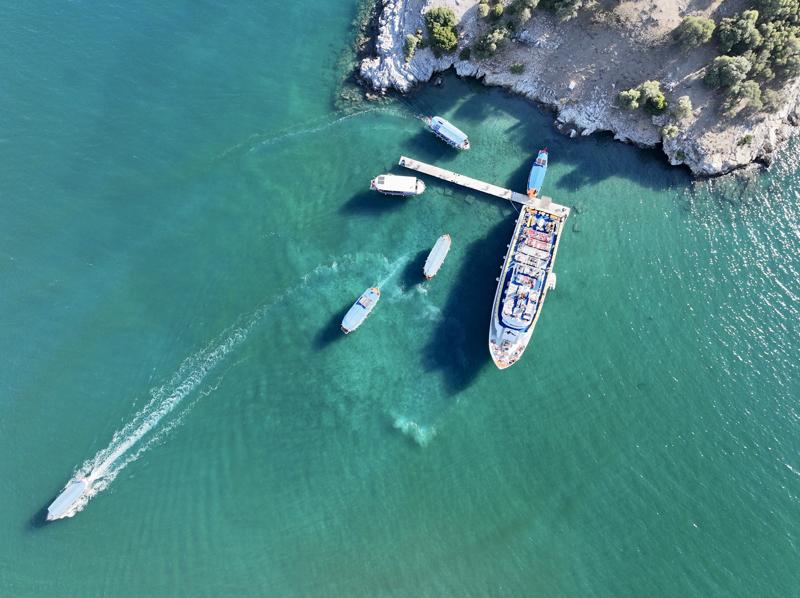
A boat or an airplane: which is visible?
boat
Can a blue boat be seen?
Yes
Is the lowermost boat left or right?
left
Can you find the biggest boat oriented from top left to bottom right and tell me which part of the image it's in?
top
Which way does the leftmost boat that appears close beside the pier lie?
from left to right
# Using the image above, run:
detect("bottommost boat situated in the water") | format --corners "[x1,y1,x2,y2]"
[44,475,95,523]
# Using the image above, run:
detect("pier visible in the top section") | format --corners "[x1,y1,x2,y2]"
[398,156,573,220]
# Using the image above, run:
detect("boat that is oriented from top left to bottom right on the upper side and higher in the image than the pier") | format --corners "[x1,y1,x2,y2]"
[423,113,471,149]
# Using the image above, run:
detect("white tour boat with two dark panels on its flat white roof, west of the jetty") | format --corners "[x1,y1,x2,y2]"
[368,175,427,196]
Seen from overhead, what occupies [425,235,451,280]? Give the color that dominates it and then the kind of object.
white boat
